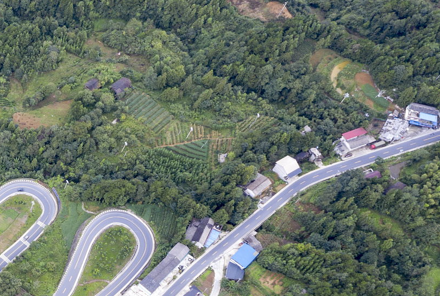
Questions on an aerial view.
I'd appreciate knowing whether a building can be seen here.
Yes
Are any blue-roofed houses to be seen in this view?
Yes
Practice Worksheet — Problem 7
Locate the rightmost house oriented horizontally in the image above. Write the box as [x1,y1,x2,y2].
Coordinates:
[402,111,438,133]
